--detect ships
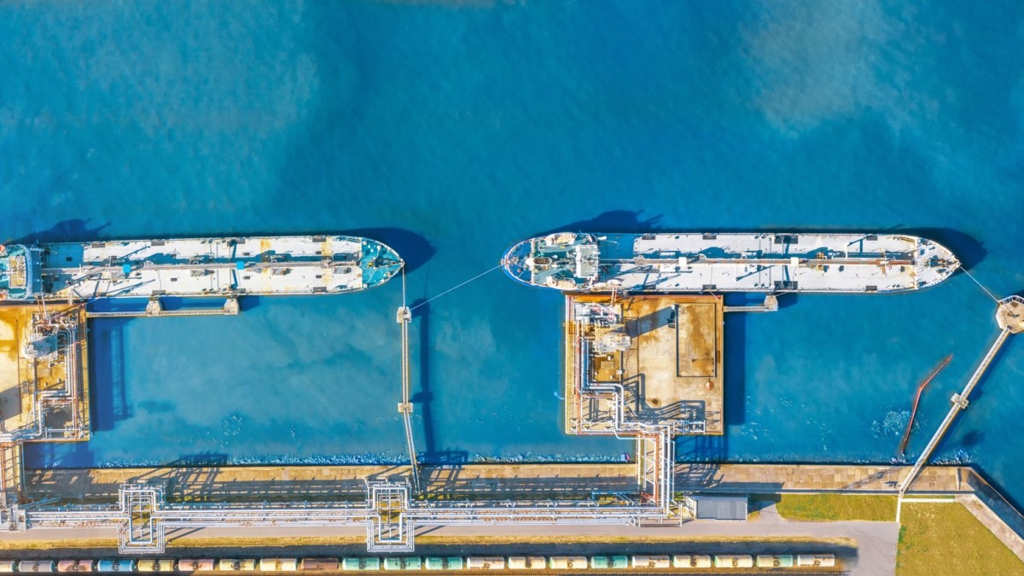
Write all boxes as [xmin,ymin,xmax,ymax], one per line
[501,232,964,293]
[0,236,412,300]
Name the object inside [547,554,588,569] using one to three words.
rail car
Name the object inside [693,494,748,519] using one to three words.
shed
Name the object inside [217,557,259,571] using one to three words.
rail car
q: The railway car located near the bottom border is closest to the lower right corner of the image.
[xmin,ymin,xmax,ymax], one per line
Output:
[794,553,836,567]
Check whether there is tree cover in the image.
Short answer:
No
